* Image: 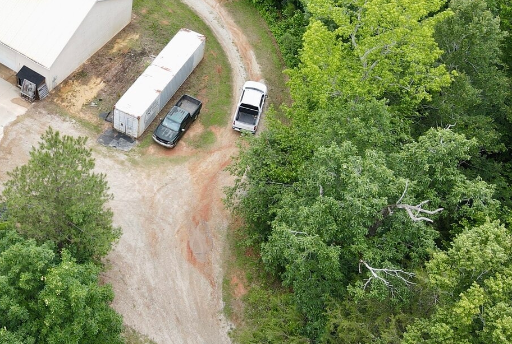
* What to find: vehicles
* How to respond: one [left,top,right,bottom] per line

[232,80,268,134]
[155,92,201,146]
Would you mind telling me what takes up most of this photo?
trees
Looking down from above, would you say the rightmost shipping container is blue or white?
white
